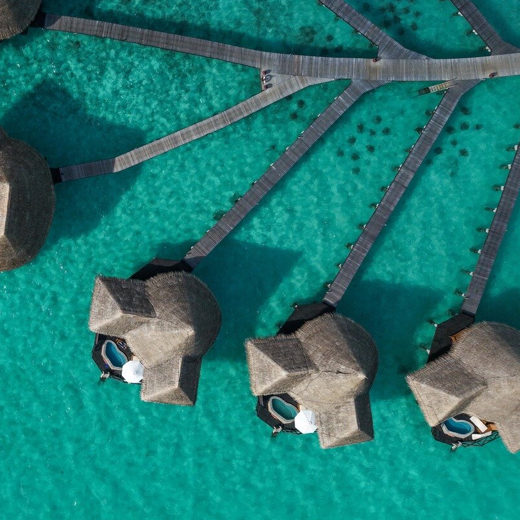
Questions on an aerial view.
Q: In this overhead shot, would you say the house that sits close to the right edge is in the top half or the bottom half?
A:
bottom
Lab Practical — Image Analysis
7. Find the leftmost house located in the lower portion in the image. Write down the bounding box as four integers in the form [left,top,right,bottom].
[88,255,221,407]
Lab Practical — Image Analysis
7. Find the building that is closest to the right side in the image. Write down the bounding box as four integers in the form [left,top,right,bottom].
[396,309,520,454]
